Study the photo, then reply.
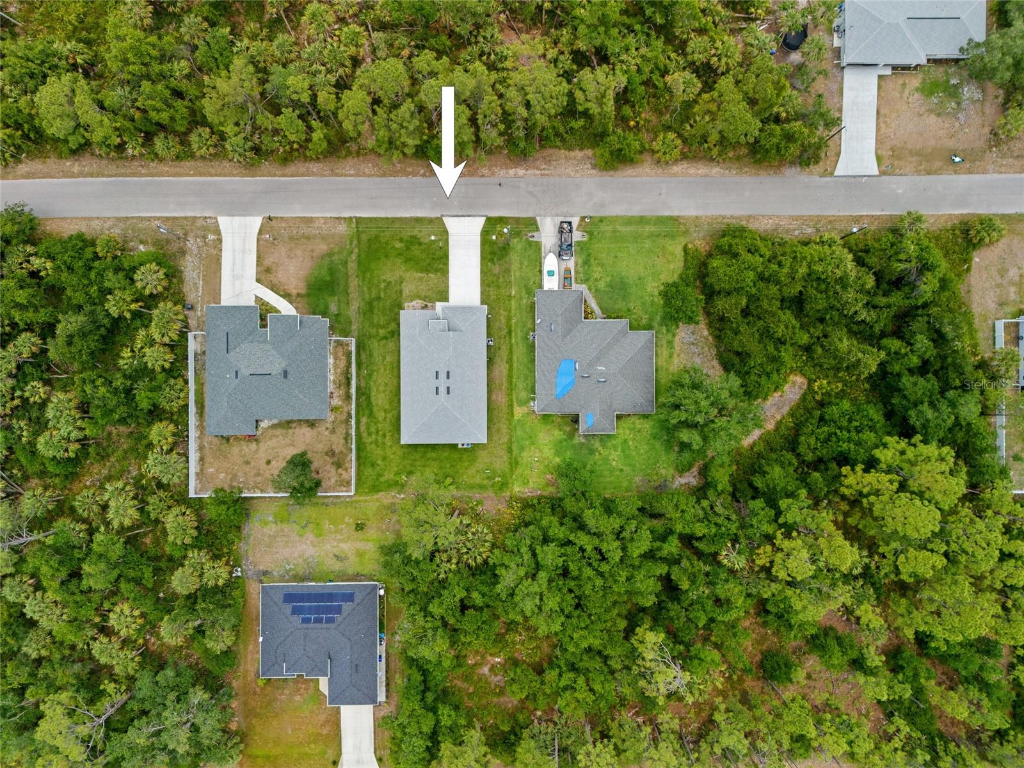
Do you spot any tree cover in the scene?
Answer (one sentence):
Yes, some tree cover is visible.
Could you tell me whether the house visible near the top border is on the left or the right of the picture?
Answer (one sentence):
The house visible near the top border sits on the right side.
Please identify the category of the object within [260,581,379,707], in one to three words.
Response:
house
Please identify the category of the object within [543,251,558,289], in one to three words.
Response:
boat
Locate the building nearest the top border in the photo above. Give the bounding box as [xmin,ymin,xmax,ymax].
[839,0,986,70]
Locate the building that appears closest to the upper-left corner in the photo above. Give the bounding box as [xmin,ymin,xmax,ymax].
[204,305,330,436]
